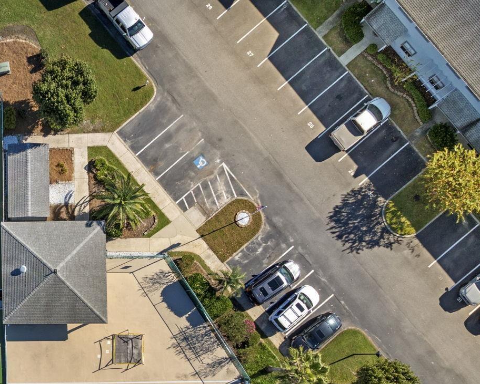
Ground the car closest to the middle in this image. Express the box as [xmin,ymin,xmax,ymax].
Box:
[244,260,297,305]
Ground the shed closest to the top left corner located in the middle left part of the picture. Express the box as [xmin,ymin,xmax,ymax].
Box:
[7,143,48,219]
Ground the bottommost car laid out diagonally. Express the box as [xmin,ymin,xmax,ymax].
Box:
[289,309,342,353]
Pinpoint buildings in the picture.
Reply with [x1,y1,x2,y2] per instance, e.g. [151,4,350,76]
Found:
[1,220,107,324]
[356,0,480,162]
[7,143,48,219]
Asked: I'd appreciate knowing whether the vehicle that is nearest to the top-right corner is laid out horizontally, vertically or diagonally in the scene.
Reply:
diagonally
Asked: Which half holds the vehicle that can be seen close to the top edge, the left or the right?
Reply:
left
